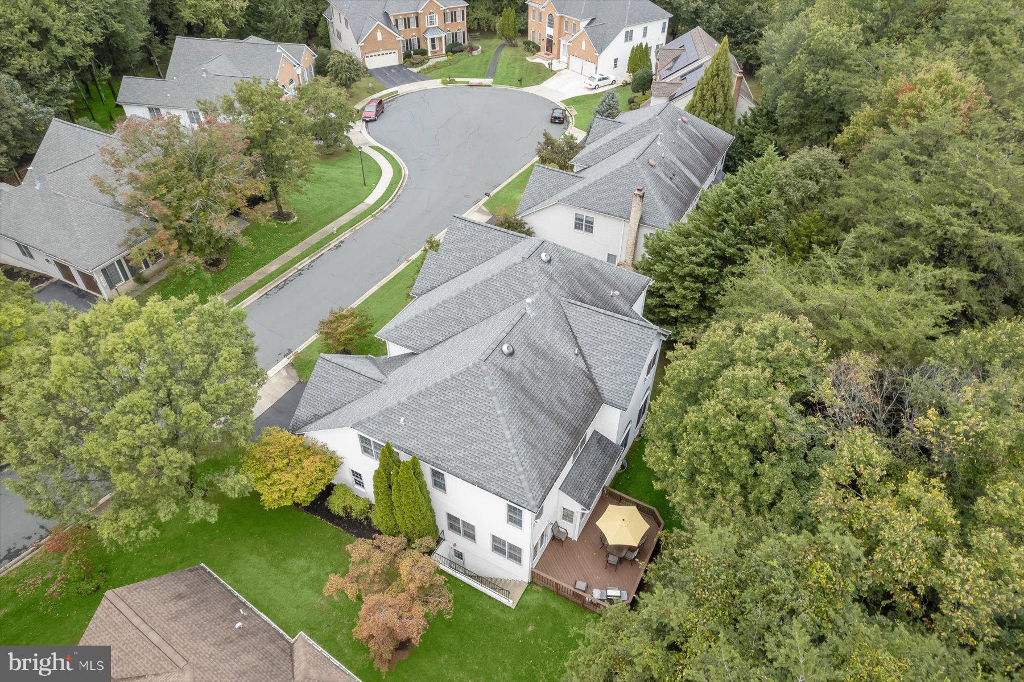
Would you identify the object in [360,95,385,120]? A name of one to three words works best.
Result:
car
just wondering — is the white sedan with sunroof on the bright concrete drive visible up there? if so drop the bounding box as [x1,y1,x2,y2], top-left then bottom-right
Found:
[584,72,618,88]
